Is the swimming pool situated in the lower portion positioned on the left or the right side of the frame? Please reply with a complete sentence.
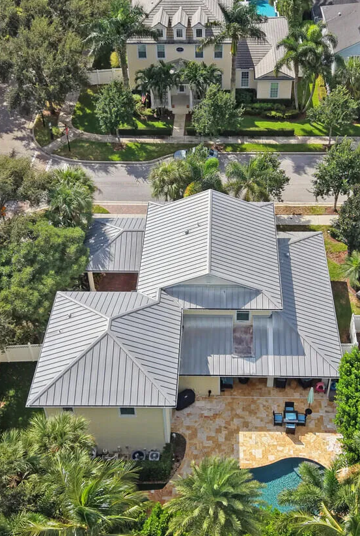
The swimming pool situated in the lower portion appears in the right half of the scene.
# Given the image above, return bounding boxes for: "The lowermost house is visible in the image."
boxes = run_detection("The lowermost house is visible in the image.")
[25,190,346,452]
